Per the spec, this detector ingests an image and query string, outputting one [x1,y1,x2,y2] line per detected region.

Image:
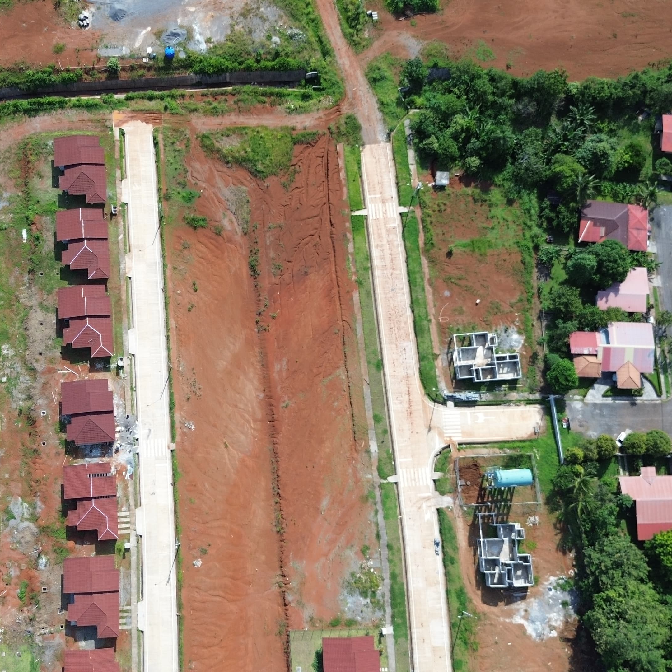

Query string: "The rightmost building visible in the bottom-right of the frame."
[616,467,672,540]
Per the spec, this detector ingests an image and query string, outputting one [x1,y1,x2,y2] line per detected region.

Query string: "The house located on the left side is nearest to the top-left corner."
[52,135,107,205]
